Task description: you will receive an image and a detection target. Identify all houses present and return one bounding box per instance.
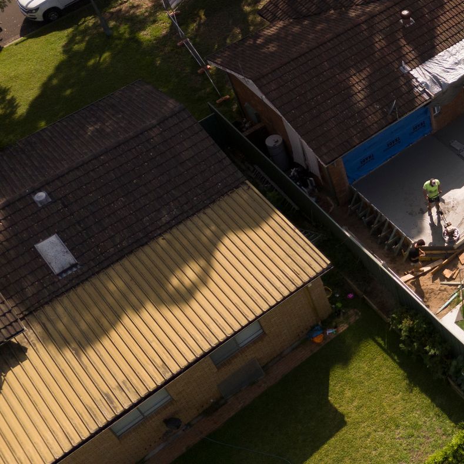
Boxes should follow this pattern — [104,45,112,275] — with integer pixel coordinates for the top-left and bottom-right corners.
[205,0,464,205]
[0,75,336,464]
